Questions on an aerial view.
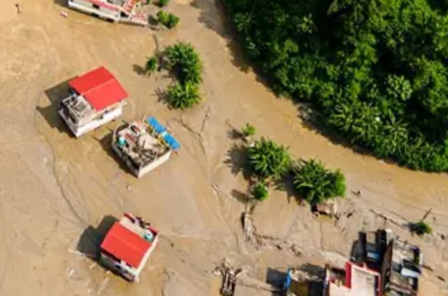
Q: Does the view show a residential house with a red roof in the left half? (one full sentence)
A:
Yes, there is a residential house with a red roof in the left half.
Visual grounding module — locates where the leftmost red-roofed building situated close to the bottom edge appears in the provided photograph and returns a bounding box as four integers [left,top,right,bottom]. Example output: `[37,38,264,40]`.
[98,208,166,282]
